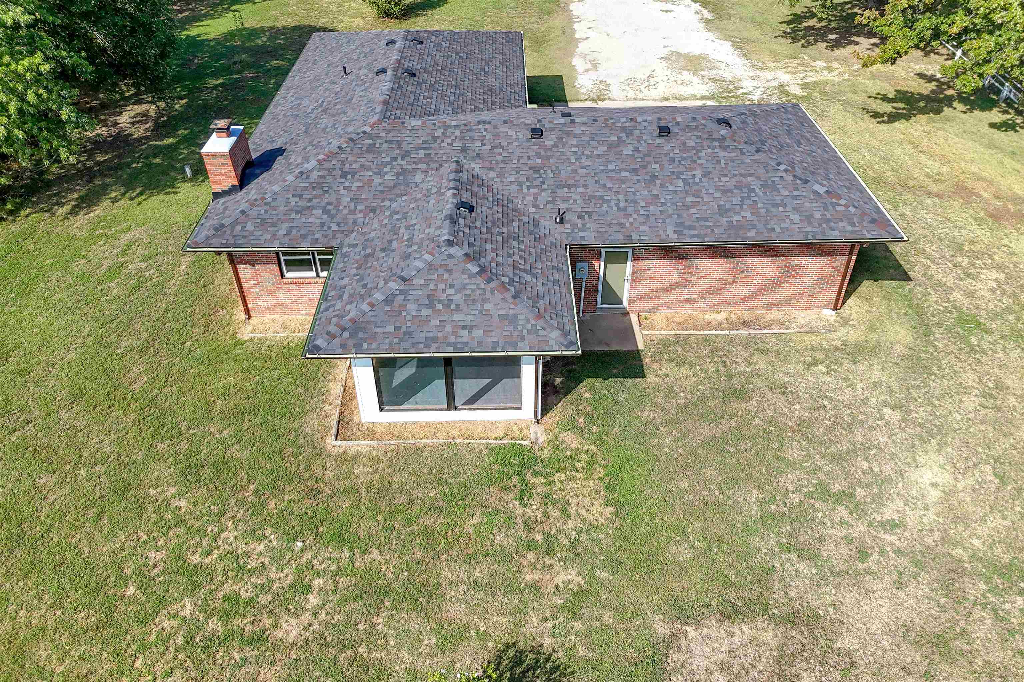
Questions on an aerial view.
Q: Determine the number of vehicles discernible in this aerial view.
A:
none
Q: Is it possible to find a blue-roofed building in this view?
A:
No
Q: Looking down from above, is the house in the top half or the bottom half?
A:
top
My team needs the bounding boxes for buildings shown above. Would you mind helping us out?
[182,30,910,425]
